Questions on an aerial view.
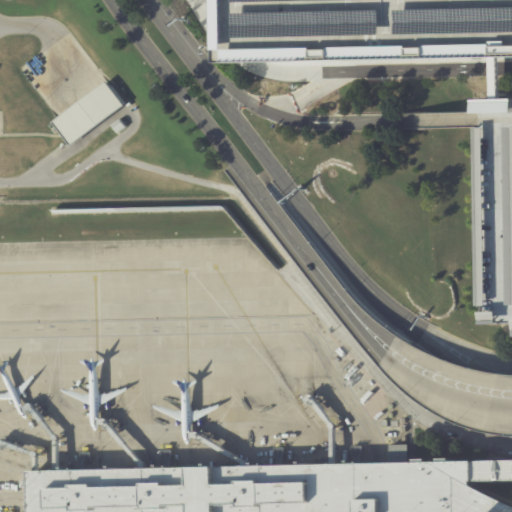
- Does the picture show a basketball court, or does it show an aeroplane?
aeroplane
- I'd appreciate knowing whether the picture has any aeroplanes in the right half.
No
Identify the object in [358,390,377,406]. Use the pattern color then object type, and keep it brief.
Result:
white vehicle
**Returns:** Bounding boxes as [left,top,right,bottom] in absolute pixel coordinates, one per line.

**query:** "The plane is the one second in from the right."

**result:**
[58,358,126,431]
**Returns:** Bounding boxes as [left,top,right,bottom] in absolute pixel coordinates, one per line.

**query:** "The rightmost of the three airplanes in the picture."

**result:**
[150,378,218,444]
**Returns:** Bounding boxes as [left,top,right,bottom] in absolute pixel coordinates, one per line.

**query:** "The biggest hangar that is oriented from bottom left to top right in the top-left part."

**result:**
[51,79,126,144]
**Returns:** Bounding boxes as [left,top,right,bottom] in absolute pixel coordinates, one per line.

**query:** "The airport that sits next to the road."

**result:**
[0,238,404,512]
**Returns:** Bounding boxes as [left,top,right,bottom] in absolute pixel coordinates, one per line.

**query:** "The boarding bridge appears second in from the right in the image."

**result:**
[188,430,247,466]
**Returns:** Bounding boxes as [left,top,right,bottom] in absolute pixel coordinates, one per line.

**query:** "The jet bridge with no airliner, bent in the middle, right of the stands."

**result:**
[302,392,338,464]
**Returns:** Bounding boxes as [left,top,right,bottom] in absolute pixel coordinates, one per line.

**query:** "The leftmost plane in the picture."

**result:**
[0,356,38,419]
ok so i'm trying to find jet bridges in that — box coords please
[18,400,64,470]
[0,434,43,471]
[302,392,338,464]
[94,416,148,468]
[188,430,247,466]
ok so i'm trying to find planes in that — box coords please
[0,356,38,419]
[150,378,218,444]
[58,358,126,431]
